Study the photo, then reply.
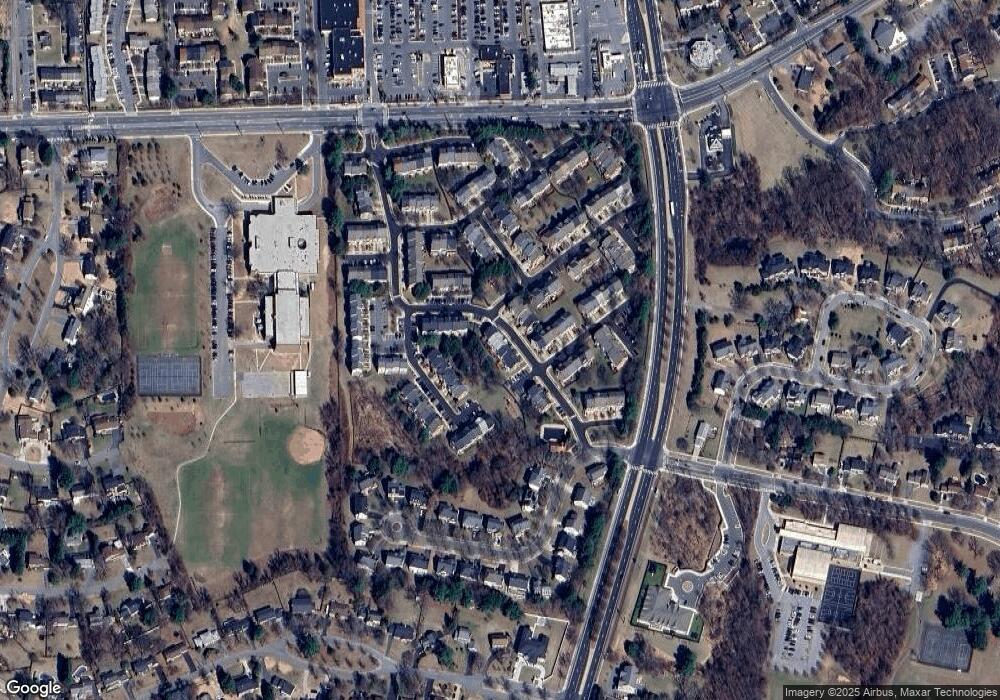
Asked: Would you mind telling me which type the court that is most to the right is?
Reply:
tennis court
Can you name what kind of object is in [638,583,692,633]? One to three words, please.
building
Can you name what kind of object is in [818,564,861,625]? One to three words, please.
basketball court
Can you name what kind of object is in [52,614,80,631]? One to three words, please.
house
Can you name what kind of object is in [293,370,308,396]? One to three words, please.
shed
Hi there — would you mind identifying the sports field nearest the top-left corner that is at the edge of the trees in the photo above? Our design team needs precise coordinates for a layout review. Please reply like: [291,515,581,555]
[130,221,202,357]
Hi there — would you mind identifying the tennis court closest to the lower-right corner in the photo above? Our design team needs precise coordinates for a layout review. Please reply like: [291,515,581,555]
[920,624,973,672]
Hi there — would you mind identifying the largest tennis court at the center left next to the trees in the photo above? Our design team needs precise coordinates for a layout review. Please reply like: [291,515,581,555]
[138,356,200,396]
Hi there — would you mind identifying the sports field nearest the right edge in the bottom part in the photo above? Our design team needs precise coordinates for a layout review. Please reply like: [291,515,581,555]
[180,411,330,574]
